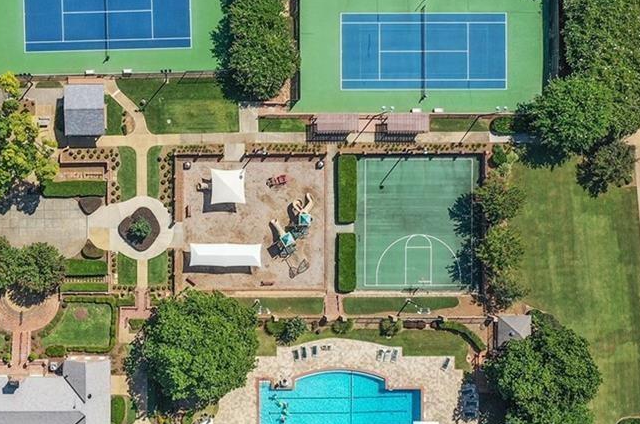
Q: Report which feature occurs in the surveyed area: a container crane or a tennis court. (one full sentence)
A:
I can see a tennis court in this picture.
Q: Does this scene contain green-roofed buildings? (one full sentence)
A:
No, I can't see a single green-roofed building in this photo.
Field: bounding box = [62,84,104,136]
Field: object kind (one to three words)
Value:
building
